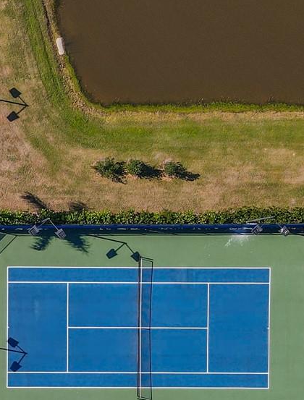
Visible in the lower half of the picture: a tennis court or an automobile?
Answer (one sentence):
Visible in the lower half of the picture is a tennis court.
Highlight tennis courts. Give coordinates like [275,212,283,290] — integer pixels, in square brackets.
[7,267,270,389]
